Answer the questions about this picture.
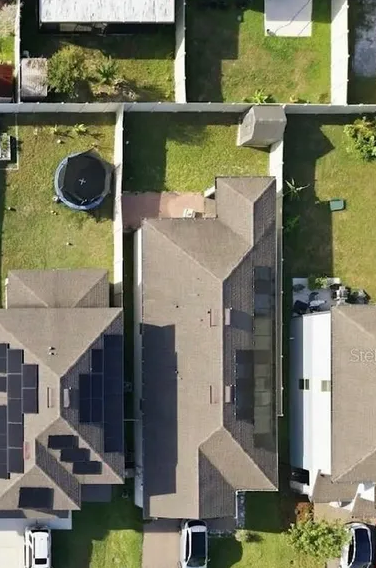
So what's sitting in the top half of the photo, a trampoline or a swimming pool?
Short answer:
trampoline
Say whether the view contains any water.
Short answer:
No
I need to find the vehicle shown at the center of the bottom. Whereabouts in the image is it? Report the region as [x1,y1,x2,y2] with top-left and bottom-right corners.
[181,523,213,568]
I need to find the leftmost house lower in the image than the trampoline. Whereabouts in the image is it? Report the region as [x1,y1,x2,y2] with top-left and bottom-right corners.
[0,269,125,517]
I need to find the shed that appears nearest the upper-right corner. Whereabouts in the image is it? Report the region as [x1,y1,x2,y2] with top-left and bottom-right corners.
[238,101,289,150]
